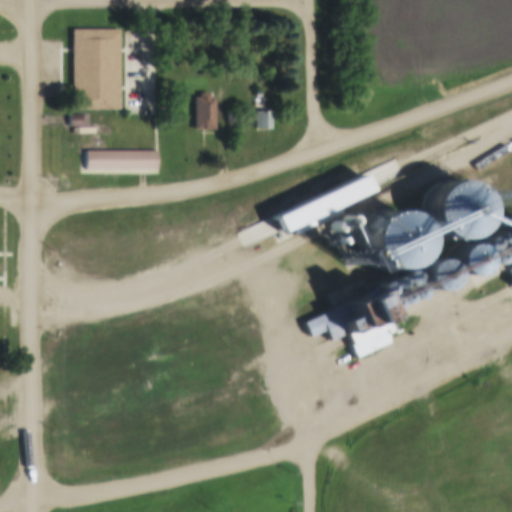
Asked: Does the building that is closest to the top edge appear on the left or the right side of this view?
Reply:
left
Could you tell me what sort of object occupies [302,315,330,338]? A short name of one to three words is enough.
shed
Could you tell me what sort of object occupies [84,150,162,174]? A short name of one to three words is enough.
shed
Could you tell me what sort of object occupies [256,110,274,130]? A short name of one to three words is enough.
building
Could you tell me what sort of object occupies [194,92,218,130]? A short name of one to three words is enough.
house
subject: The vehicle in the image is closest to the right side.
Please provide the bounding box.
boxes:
[474,138,512,168]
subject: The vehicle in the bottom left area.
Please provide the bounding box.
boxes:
[24,430,36,483]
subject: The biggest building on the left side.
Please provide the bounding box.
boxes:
[73,29,123,110]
